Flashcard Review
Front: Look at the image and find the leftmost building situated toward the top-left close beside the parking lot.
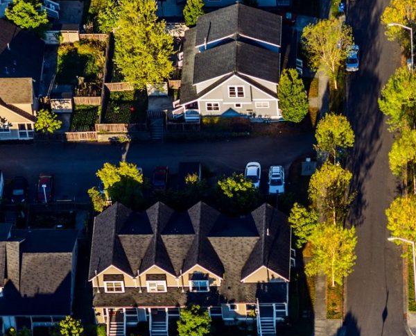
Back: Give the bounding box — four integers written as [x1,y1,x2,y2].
[0,15,52,138]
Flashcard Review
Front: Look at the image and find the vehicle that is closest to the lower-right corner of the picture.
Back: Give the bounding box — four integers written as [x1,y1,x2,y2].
[268,167,285,195]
